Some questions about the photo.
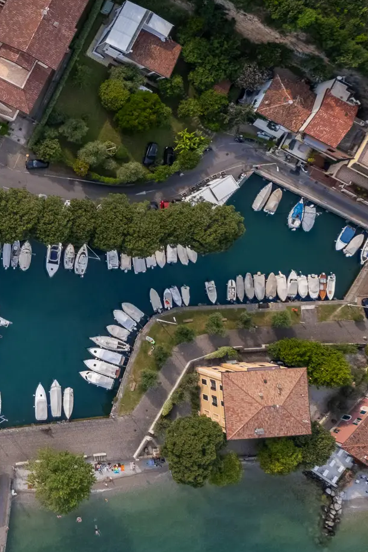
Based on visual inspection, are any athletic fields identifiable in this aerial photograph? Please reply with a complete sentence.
No, the picture doesn't show any athletic field.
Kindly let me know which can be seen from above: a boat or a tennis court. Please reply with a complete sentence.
The image shows a boat.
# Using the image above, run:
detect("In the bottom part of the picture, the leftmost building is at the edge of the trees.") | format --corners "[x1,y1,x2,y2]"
[197,362,313,441]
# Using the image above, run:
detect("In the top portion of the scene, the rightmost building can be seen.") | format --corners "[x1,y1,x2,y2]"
[331,117,368,192]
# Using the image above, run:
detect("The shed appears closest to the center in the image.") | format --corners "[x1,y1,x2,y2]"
[180,175,239,208]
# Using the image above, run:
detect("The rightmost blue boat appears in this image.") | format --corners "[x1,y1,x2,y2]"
[336,225,355,249]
